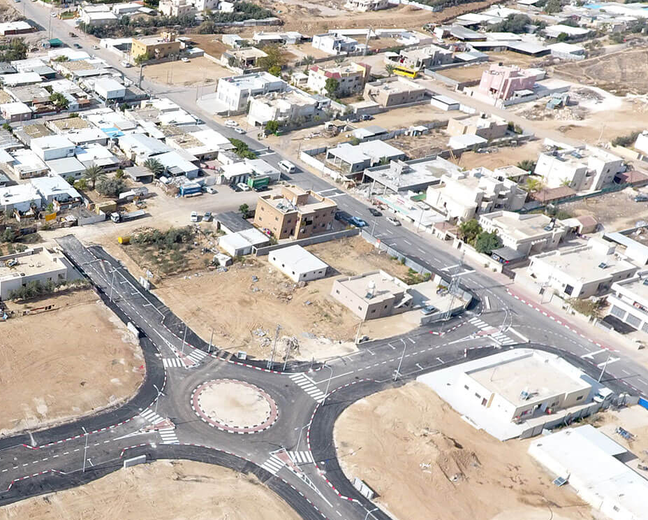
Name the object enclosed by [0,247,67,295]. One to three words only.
house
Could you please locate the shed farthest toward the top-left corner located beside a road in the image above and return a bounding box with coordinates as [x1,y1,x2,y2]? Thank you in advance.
[0,21,33,39]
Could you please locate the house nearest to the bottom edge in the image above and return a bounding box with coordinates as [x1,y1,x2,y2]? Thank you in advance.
[525,425,648,520]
